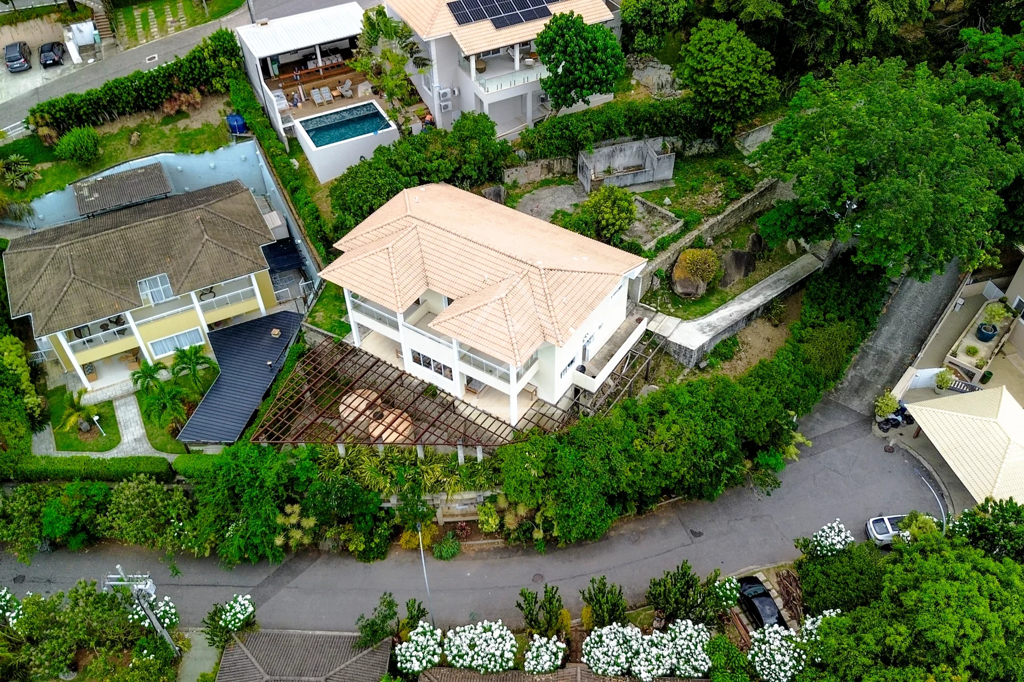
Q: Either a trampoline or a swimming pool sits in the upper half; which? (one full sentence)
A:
The one visible in the upper half is a swimming pool.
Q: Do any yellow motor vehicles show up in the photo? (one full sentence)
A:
No, there isn't any yellow motor vehicle down there.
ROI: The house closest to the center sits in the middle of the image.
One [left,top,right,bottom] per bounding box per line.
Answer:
[317,182,646,441]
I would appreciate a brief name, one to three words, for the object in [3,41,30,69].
car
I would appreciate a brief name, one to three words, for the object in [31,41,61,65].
car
